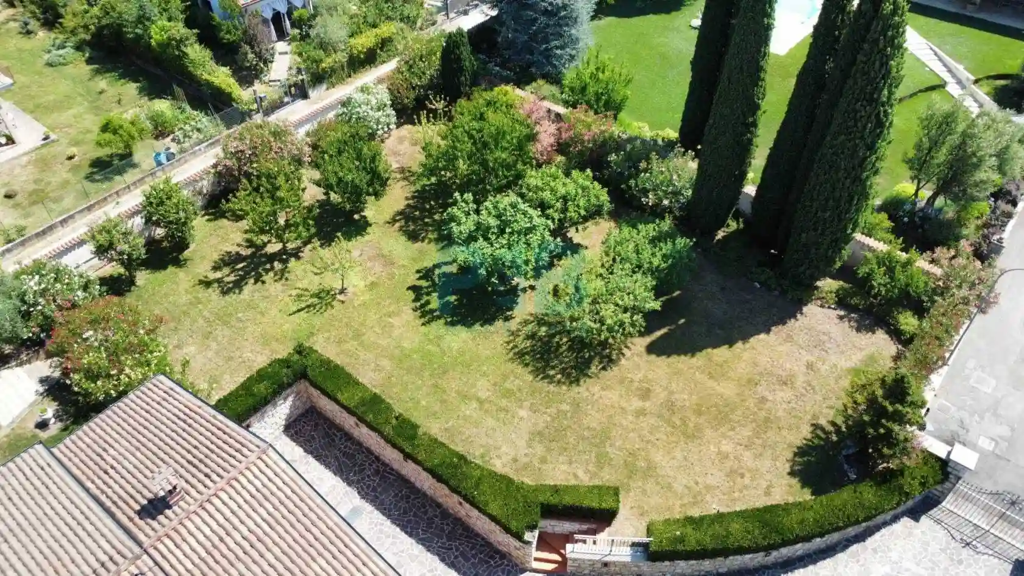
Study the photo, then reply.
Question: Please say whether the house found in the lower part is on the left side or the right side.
left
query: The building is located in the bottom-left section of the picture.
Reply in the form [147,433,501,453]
[0,373,406,576]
